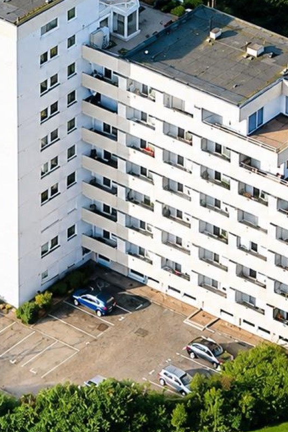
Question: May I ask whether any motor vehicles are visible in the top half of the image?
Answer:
No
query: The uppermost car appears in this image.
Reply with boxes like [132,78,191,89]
[75,288,120,316]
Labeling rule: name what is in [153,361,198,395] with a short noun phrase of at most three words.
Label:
car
